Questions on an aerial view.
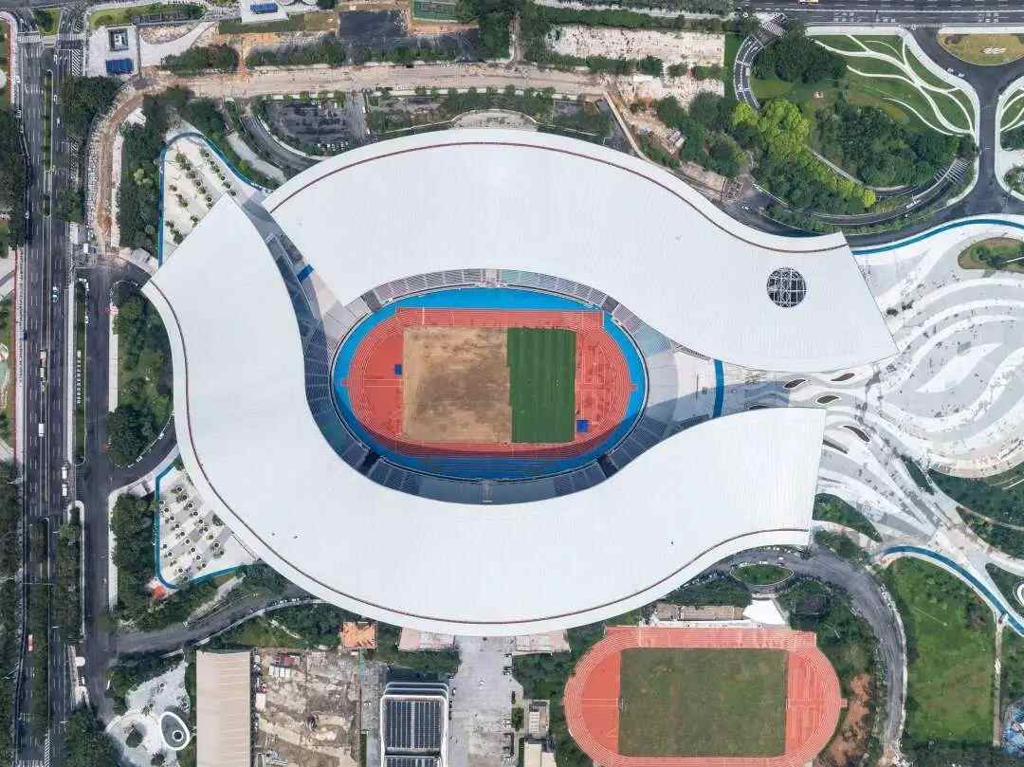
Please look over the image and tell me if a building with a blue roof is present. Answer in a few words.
Yes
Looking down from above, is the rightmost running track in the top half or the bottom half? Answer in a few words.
bottom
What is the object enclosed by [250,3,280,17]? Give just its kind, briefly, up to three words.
building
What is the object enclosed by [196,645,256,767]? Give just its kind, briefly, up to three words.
shed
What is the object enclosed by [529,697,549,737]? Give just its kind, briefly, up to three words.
building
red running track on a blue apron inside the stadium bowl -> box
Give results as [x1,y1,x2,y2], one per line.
[335,287,647,478]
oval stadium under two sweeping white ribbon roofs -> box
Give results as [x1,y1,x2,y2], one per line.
[141,129,899,637]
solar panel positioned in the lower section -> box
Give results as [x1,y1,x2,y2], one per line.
[387,700,441,767]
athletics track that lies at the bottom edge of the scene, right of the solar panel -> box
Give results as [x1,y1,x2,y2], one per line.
[559,626,847,767]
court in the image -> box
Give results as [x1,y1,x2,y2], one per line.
[411,0,458,23]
